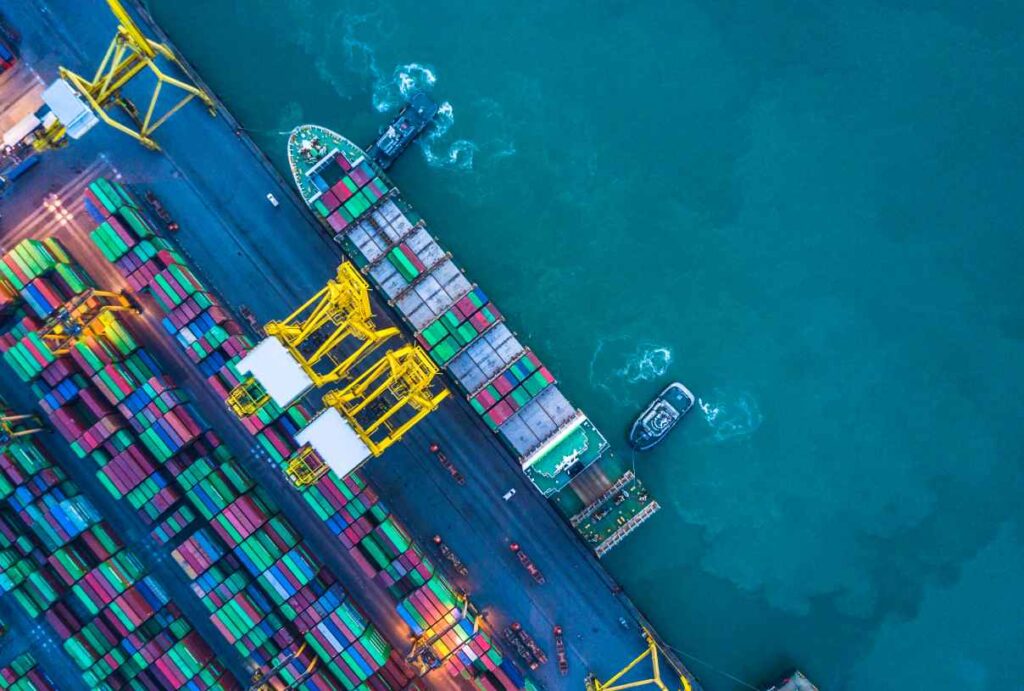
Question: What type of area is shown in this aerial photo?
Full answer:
This looks like a port.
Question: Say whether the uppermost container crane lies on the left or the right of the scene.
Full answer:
The uppermost container crane sits on the left side.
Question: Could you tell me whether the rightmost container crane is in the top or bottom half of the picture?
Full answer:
You can find the rightmost container crane in the bottom half.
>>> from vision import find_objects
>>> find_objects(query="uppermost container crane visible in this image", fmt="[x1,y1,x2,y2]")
[4,0,219,163]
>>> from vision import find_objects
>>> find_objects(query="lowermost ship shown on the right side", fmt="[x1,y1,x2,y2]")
[764,664,820,691]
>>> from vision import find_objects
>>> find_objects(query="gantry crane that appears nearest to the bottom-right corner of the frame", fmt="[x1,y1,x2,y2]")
[582,627,689,691]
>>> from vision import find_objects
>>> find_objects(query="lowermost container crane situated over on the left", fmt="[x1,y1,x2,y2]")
[245,639,320,691]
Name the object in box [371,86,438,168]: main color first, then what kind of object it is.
blue boat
